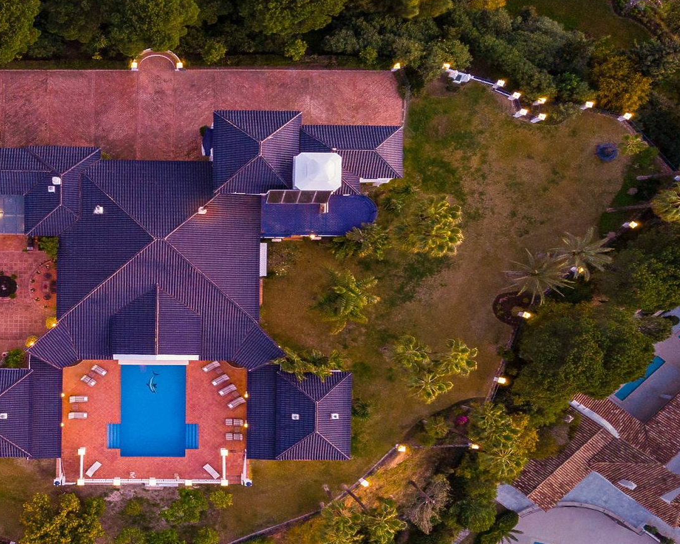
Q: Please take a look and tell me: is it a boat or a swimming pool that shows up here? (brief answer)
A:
swimming pool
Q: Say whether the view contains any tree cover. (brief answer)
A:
Yes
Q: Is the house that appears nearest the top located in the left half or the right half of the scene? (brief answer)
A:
left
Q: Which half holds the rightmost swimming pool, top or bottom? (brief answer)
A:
bottom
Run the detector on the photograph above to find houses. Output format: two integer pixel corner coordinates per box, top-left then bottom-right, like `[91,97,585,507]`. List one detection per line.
[507,392,680,529]
[0,109,404,460]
